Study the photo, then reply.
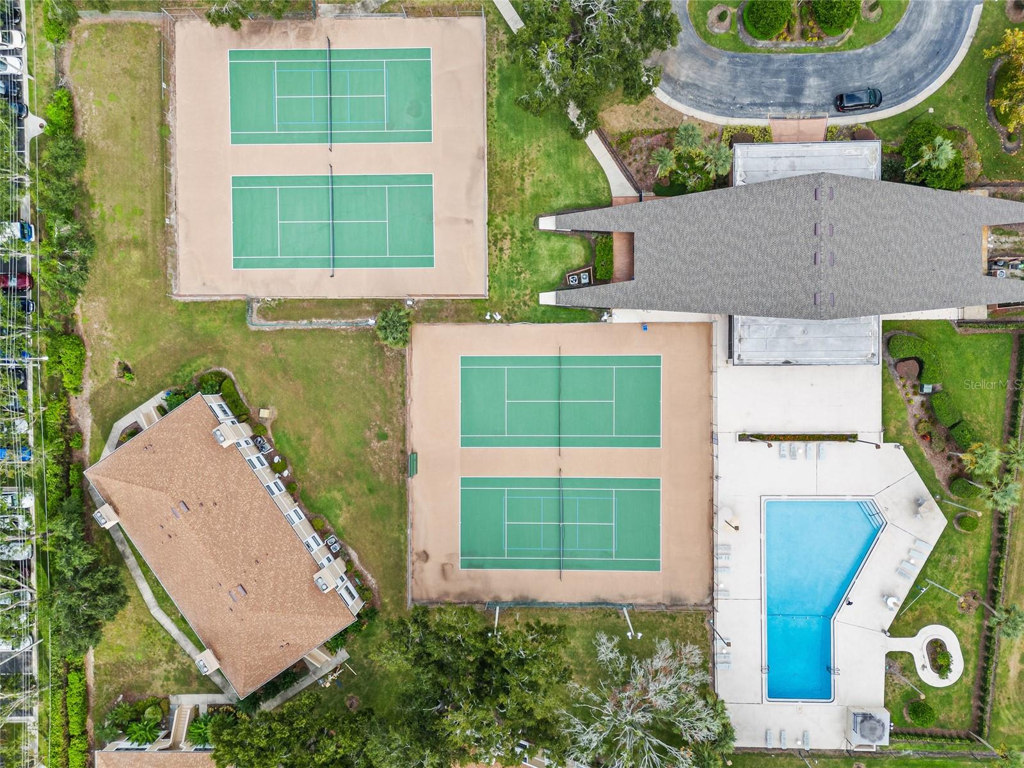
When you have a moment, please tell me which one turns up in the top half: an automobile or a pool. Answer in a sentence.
Looking in the top half, you will find an automobile.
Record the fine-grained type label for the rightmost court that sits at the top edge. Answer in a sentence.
It looks like the rightmost court that sits at the top edge is a tennis court.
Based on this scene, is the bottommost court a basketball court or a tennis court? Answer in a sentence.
The bottommost court in the image is a tennis court.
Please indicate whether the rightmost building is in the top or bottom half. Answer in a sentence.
The rightmost building sits in the top half of the picture.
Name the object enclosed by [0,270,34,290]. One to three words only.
car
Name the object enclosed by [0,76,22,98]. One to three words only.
car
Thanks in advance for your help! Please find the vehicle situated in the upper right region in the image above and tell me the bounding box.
[837,85,884,111]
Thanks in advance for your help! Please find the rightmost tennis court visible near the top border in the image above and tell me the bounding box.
[228,38,433,151]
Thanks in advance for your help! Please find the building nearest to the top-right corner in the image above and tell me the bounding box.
[542,140,1024,365]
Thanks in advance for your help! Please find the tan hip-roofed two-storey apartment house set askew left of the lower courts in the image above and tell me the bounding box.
[86,393,369,700]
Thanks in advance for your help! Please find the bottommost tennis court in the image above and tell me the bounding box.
[458,469,663,581]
